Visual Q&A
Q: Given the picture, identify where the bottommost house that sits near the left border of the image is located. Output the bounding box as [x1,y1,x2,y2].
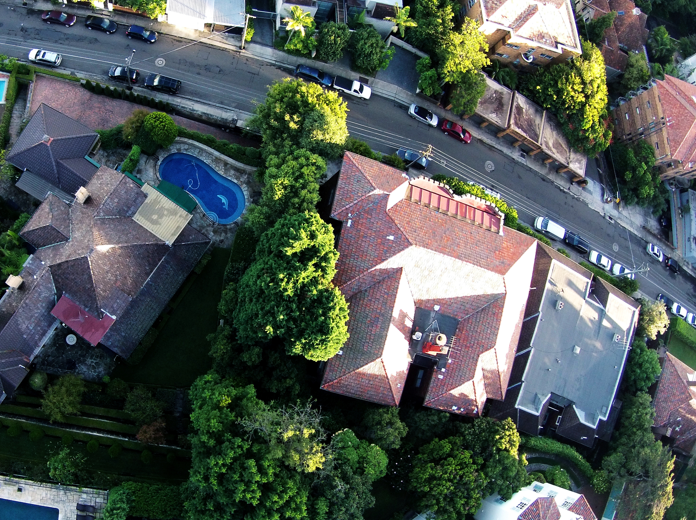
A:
[0,102,212,405]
